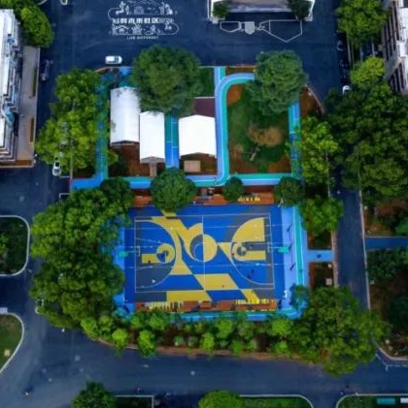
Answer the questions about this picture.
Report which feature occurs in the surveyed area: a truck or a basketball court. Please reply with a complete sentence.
The image shows a basketball court.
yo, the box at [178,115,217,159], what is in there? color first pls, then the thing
white tent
